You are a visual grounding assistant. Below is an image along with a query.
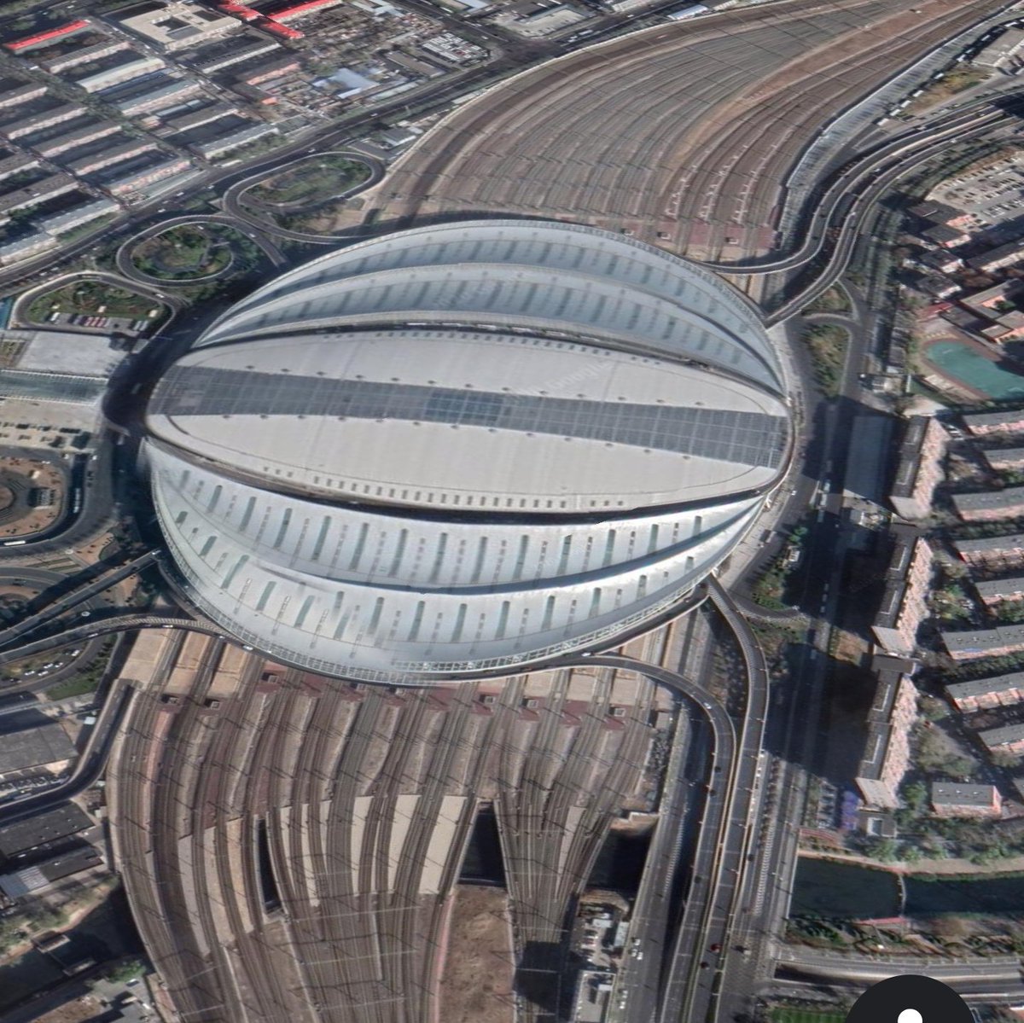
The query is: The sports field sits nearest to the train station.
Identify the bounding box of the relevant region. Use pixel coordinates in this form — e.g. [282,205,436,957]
[916,333,1024,406]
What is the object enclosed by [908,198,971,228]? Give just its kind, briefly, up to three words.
building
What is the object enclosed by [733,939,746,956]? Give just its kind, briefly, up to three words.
vehicle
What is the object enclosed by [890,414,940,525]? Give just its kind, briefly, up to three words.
building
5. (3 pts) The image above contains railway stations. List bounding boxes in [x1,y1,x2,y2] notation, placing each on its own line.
[145,218,793,686]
